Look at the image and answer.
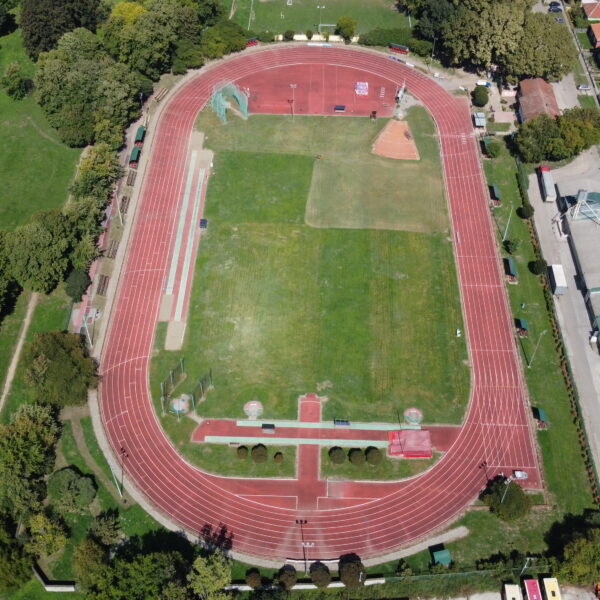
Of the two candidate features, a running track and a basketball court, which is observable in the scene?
running track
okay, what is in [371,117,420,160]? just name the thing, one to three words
sports field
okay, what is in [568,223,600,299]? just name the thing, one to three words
building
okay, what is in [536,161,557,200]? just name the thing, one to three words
truck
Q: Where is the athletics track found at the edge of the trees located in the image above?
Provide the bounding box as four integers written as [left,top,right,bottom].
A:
[97,45,546,565]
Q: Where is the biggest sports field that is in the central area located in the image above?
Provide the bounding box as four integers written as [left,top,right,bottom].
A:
[148,86,473,482]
